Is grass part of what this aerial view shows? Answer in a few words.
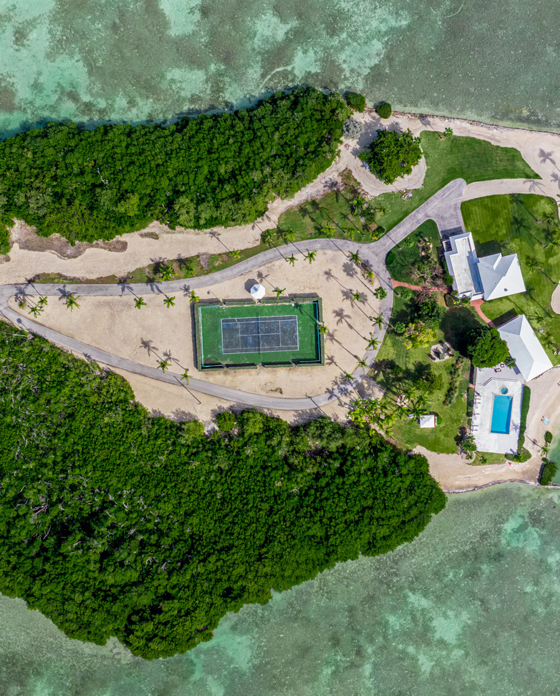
Yes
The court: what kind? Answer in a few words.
tennis court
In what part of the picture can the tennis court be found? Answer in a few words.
center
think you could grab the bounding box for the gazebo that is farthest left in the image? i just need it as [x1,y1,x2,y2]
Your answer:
[251,285,265,299]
